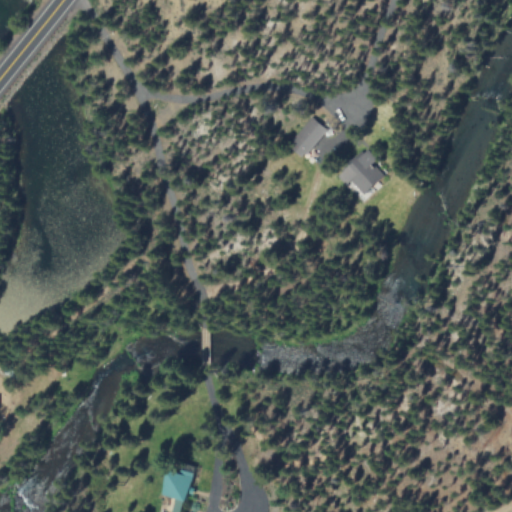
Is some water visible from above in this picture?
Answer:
Yes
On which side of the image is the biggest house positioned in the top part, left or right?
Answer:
right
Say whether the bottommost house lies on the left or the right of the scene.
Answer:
left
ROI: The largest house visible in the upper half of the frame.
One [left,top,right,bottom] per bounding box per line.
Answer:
[339,150,388,202]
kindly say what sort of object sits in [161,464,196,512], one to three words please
house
